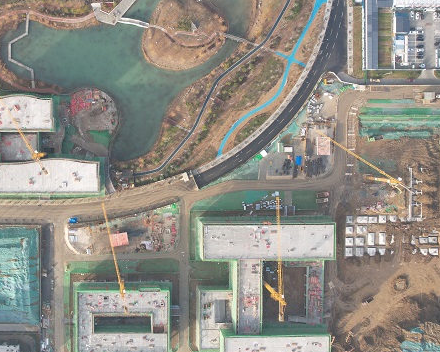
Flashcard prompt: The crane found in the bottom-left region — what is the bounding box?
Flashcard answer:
[101,203,126,318]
